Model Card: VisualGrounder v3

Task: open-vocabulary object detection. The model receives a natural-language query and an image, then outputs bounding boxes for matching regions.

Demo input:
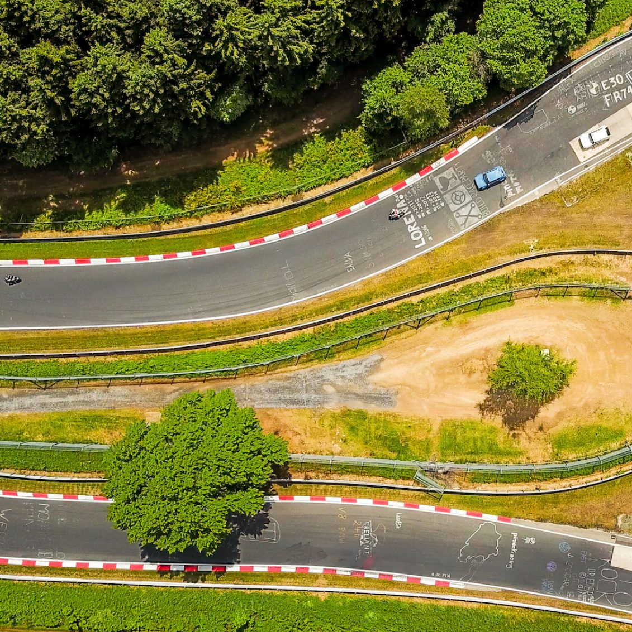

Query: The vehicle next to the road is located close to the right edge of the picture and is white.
[577,126,612,150]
